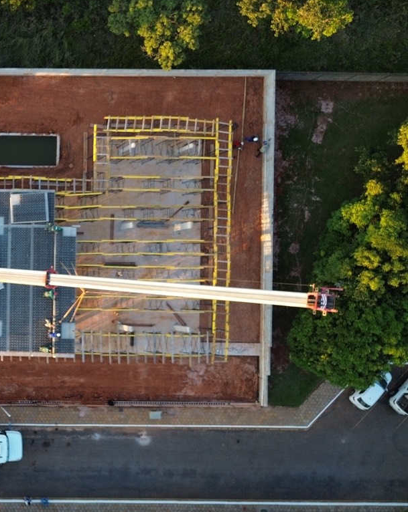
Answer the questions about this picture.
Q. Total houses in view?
0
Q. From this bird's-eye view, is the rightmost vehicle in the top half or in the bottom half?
bottom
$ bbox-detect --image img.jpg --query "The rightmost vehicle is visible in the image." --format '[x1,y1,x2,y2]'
[385,379,408,423]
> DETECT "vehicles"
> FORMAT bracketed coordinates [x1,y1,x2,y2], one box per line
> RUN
[385,379,408,423]
[0,427,26,468]
[344,363,393,412]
